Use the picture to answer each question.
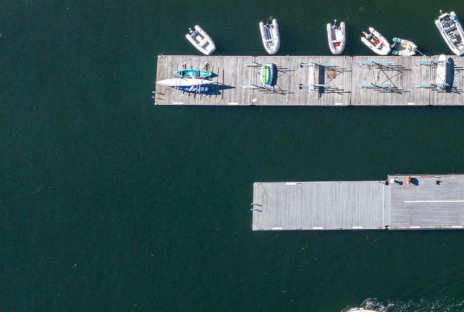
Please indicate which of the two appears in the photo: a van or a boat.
boat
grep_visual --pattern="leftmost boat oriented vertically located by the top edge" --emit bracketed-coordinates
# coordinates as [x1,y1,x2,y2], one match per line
[259,14,279,54]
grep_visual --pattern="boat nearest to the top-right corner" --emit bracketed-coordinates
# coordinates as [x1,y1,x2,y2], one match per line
[435,6,464,56]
